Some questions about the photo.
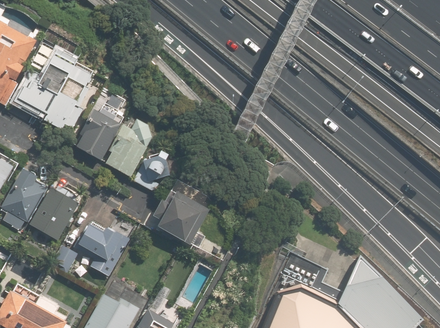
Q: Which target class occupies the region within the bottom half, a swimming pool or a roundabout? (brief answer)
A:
swimming pool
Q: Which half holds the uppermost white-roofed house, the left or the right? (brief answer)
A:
left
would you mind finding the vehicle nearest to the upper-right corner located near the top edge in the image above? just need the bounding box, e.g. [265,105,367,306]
[374,2,388,15]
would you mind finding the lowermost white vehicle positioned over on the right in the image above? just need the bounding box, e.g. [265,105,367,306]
[323,118,338,130]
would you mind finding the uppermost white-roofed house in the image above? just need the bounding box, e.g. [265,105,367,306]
[15,44,93,127]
